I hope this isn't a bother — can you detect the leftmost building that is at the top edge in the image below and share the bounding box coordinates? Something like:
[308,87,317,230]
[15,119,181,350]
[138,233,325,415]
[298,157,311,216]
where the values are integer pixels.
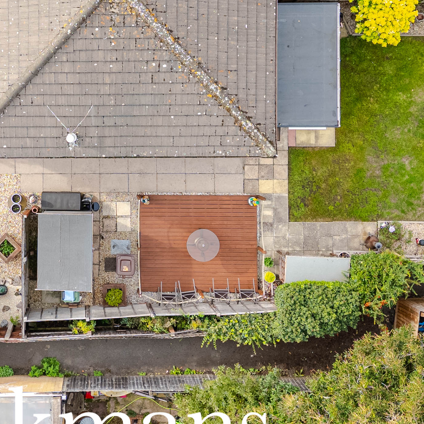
[0,0,285,160]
